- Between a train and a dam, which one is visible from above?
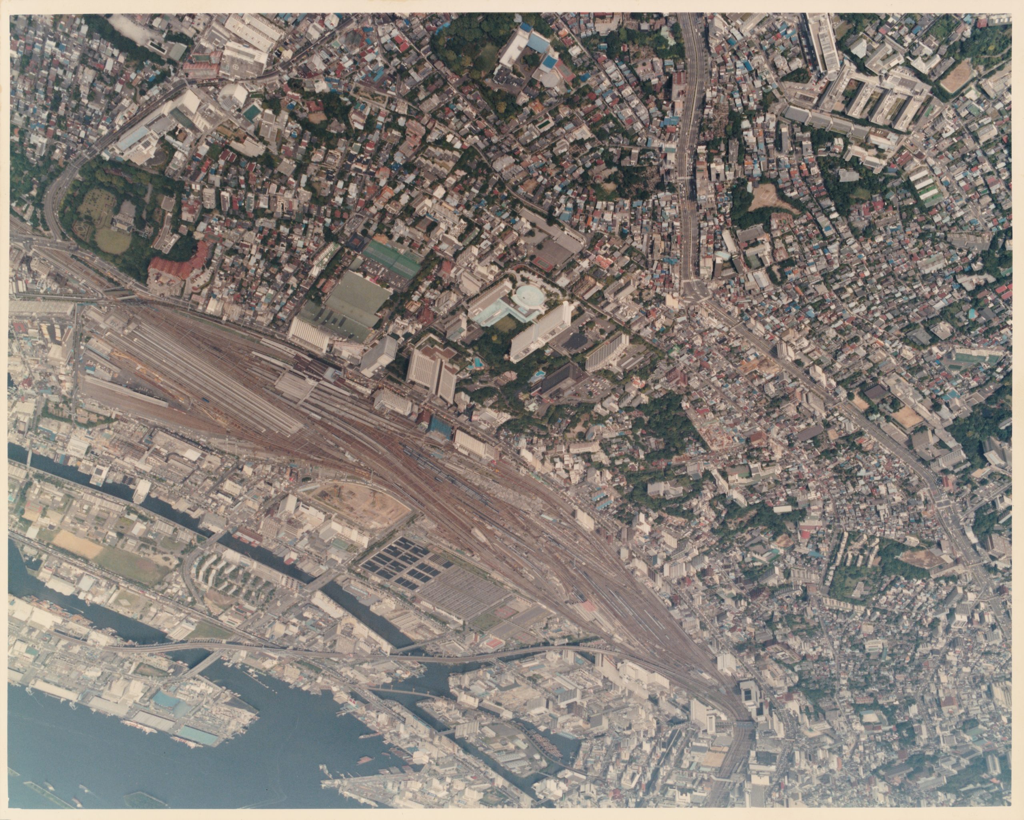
train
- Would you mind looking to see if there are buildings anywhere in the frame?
Yes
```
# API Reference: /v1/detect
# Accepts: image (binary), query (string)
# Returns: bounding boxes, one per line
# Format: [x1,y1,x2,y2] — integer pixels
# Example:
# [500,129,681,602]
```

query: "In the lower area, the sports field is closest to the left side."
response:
[53,531,103,558]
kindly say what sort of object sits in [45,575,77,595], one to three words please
building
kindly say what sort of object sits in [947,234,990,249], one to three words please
building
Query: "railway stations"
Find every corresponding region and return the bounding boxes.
[247,338,376,428]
